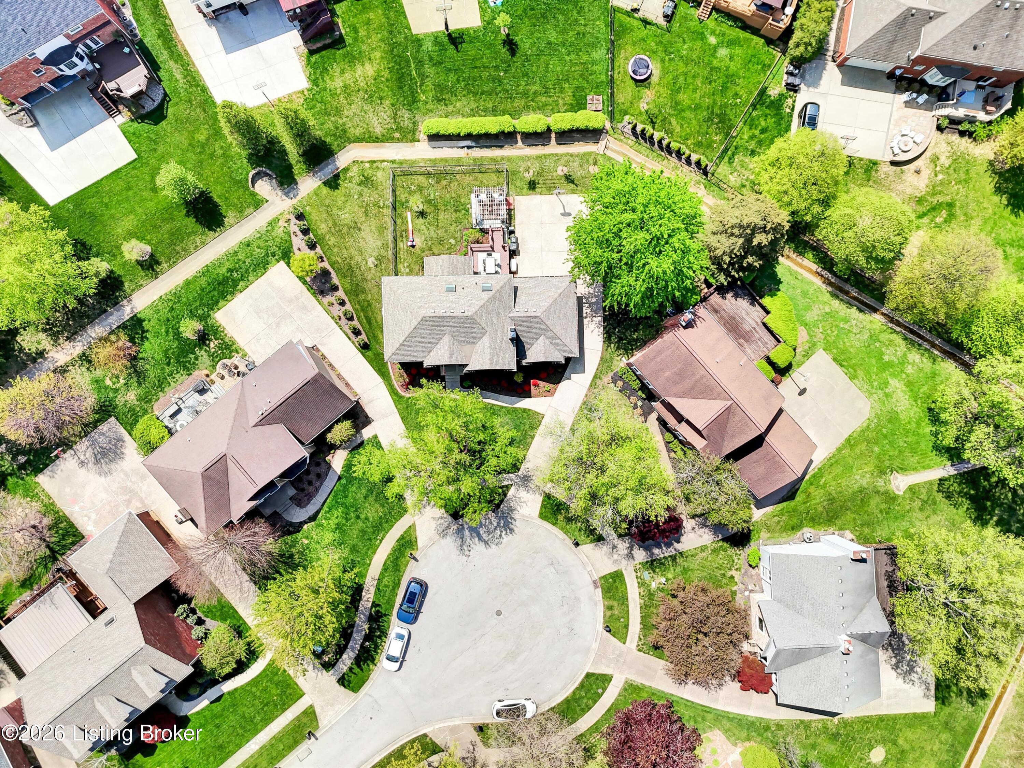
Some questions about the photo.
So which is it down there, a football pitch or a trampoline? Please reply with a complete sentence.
I can see a trampoline in this picture.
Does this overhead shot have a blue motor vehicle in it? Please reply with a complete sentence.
Yes, this view includes a blue motor vehicle.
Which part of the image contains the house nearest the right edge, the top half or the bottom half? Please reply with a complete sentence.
The house nearest the right edge is in the top half of the image.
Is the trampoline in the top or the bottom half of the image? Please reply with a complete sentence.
It is in the top half that the trampoline appears.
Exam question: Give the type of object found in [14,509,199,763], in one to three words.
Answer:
house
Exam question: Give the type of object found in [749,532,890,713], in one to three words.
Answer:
house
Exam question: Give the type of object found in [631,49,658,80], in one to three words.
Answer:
trampoline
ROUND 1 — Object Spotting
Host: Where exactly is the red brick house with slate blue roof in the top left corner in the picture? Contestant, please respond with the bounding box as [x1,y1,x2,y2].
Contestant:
[0,0,141,109]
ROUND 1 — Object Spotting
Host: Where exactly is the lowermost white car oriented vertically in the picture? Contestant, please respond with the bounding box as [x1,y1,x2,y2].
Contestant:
[382,625,410,674]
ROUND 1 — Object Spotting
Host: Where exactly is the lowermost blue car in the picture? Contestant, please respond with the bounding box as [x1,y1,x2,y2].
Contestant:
[397,578,425,627]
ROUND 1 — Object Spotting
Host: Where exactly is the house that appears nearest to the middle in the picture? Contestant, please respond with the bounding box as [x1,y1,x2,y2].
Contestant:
[381,255,580,378]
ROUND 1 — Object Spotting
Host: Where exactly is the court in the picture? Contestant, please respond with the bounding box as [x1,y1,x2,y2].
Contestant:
[403,0,481,34]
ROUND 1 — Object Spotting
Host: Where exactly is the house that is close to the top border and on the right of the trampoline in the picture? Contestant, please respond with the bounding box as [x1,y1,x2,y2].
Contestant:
[833,0,1024,101]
